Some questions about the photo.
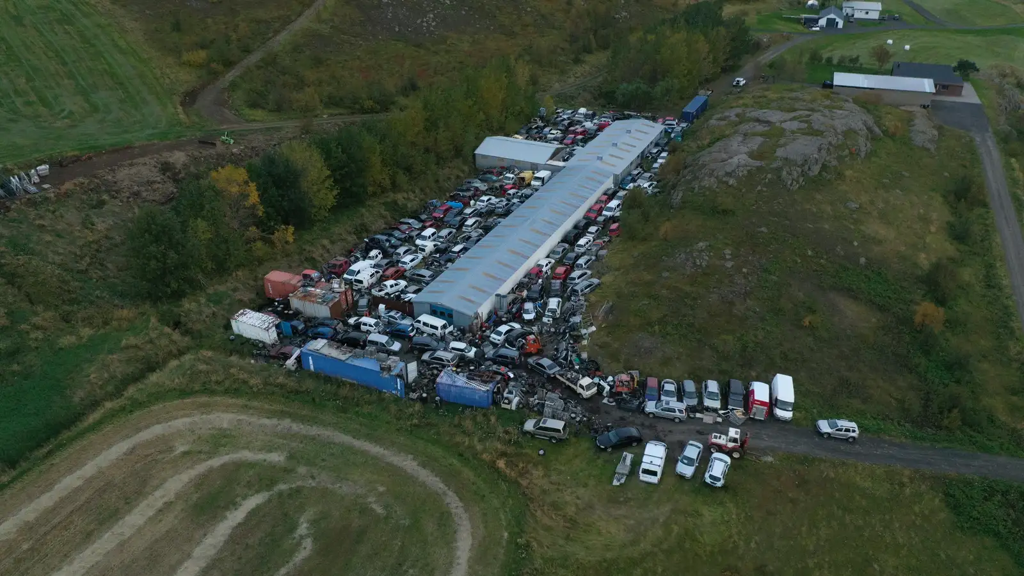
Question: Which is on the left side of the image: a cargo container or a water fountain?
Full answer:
The feature located on the left side of the image is a cargo container.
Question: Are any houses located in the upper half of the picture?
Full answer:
Yes, the scene does show a house in the upper half of the picture.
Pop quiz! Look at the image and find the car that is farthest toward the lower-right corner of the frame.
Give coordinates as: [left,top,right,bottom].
[816,418,861,442]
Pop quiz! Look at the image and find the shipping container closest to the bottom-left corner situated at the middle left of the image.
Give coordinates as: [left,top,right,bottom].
[230,307,284,345]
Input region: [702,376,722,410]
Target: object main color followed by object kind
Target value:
white car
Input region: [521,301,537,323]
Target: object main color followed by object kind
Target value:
white car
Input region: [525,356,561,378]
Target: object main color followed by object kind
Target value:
gray car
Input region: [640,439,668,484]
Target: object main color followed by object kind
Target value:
white van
